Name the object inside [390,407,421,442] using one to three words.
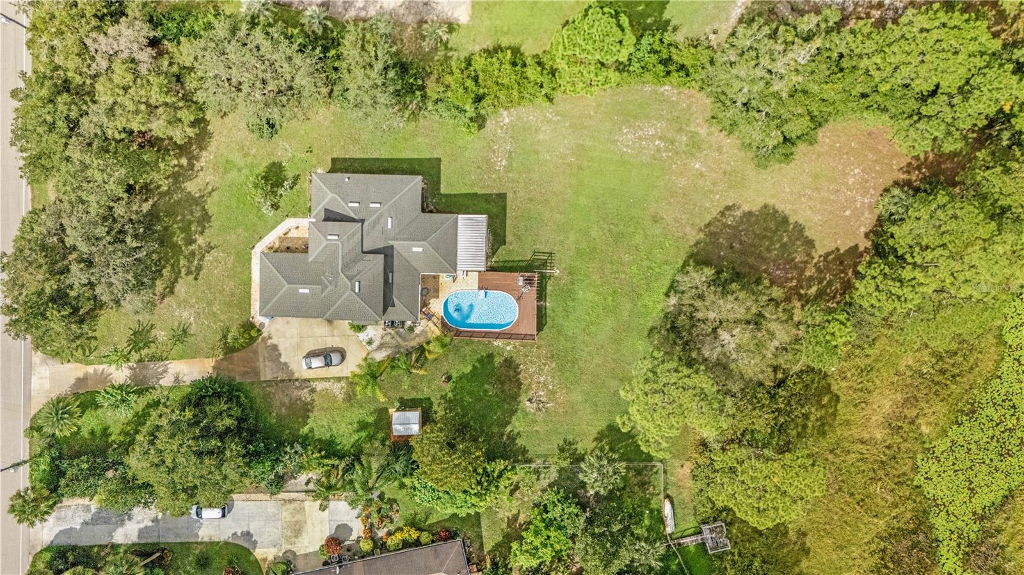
shed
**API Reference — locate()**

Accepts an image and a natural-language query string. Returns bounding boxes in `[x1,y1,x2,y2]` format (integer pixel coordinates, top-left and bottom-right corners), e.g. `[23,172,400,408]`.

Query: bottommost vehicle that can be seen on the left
[192,504,228,522]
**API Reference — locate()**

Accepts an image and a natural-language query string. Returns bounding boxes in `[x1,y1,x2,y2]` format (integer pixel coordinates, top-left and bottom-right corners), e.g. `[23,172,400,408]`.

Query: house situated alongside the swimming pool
[258,172,458,324]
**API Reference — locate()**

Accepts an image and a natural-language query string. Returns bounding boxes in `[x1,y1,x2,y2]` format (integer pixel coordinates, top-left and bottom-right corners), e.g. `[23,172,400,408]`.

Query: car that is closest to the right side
[302,351,344,369]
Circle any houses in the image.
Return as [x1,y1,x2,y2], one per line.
[258,172,458,324]
[290,539,470,575]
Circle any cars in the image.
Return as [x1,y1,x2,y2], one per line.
[192,504,228,522]
[302,351,344,369]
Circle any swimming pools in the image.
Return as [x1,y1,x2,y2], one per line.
[442,290,519,330]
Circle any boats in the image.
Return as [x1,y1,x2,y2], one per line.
[665,499,678,534]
